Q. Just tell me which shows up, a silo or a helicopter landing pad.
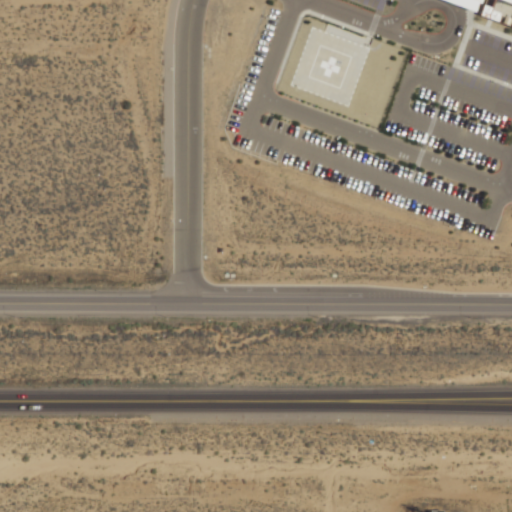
helicopter landing pad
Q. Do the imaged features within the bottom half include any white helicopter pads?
No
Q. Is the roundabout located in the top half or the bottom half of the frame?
top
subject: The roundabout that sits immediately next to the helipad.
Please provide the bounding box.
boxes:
[396,0,467,54]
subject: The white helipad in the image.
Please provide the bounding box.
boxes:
[291,27,370,106]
